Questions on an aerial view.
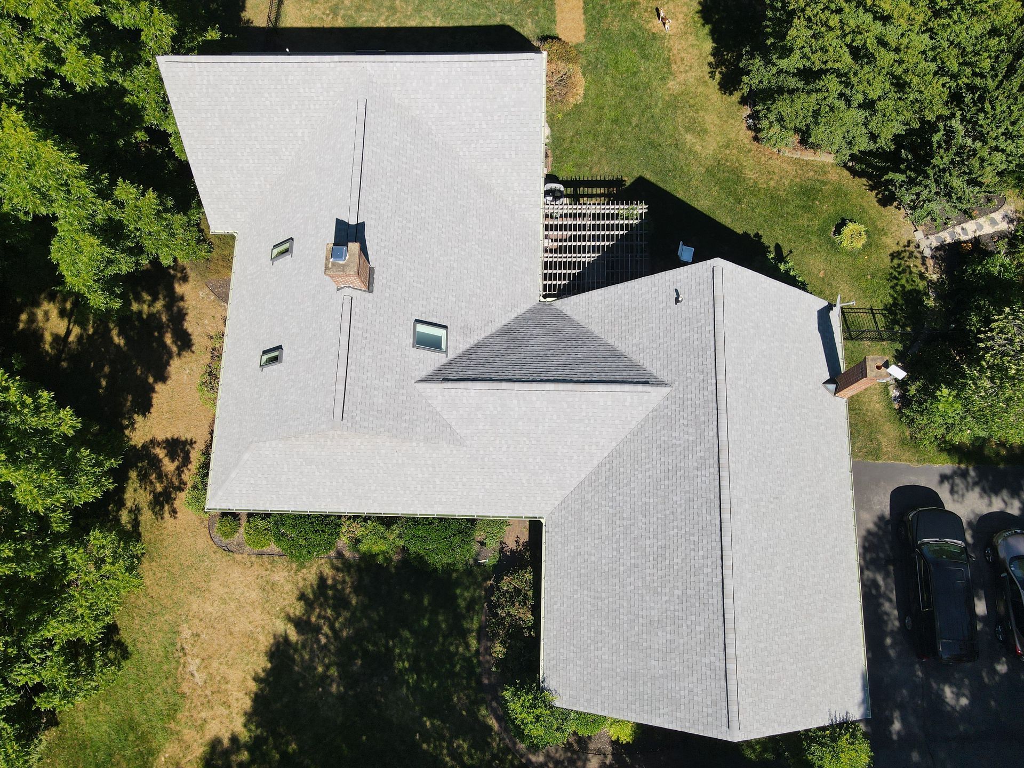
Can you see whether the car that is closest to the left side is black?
Yes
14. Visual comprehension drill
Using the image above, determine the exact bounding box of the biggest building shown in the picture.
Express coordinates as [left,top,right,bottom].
[156,45,891,743]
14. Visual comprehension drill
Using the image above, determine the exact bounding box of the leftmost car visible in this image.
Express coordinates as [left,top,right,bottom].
[895,498,987,664]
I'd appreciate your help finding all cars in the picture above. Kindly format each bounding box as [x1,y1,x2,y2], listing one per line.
[895,498,987,664]
[983,520,1024,673]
